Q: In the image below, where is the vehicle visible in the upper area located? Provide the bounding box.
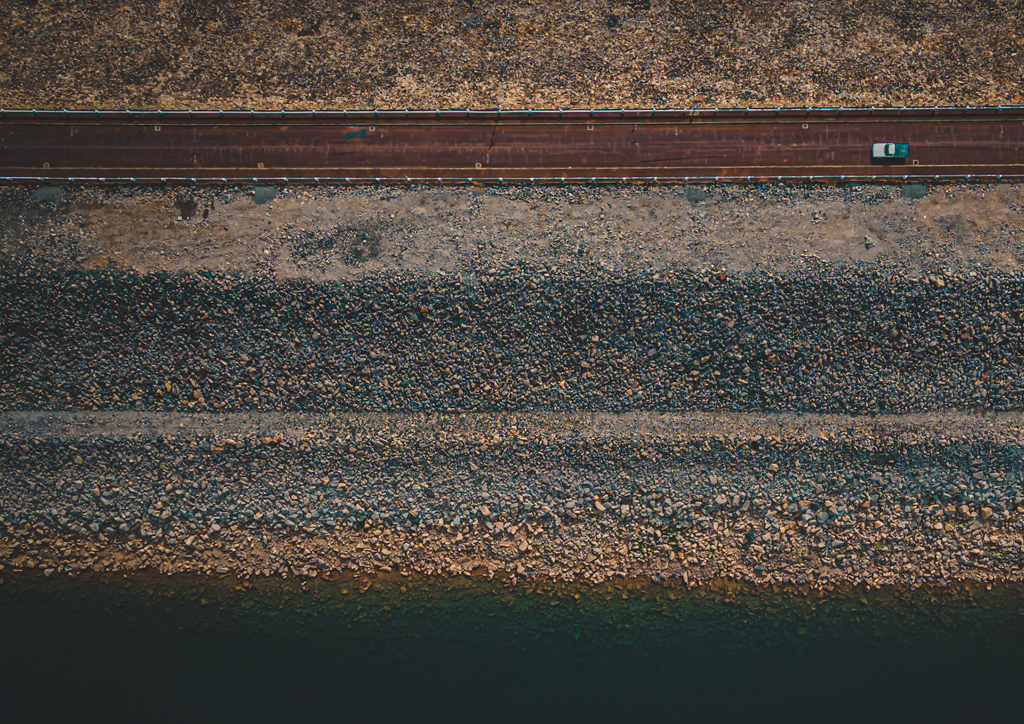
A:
[873,142,909,159]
